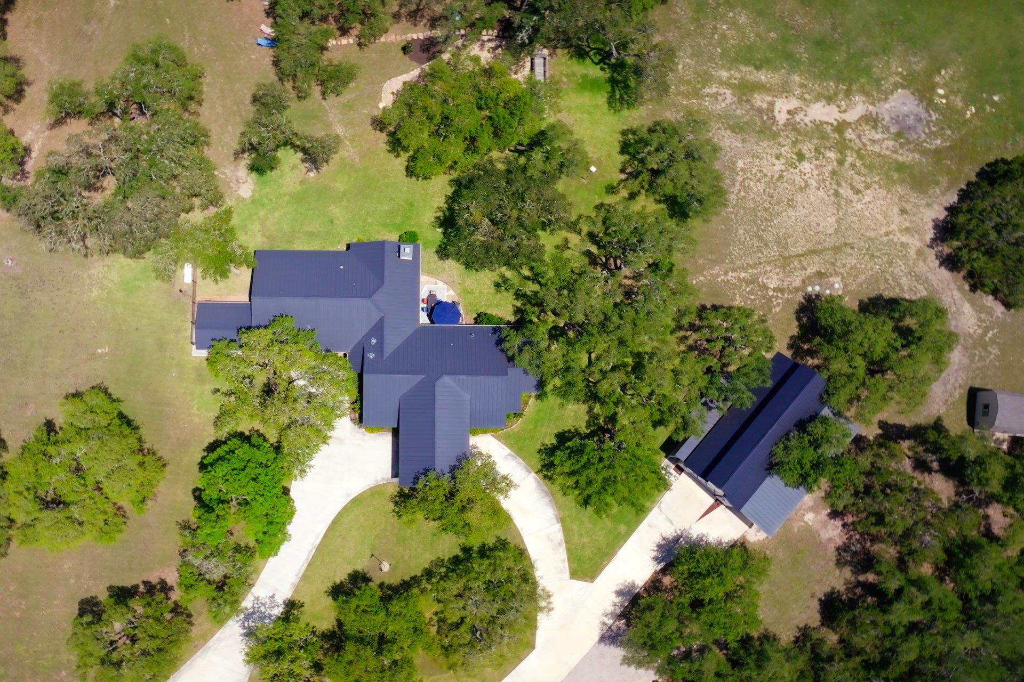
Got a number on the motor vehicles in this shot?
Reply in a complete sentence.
The picture shows no motor vehicles.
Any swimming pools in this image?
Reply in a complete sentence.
No, there is no swimming pool in the image.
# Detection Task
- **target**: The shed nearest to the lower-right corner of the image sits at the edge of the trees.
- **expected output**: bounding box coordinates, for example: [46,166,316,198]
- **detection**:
[975,390,1024,431]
